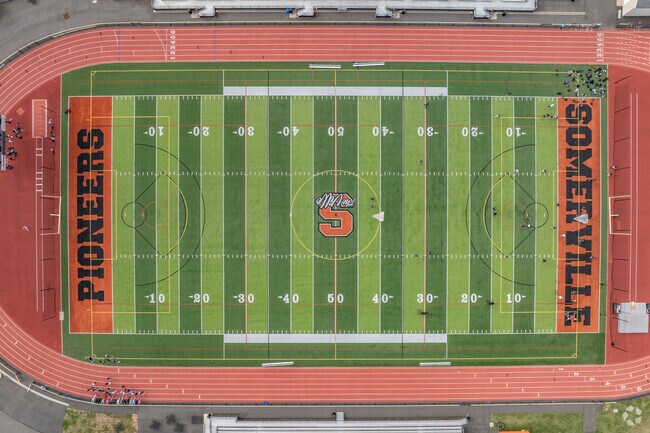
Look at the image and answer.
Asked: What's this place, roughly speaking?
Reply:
sports ground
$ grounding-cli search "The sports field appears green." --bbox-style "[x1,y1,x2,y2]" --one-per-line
[62,62,606,366]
